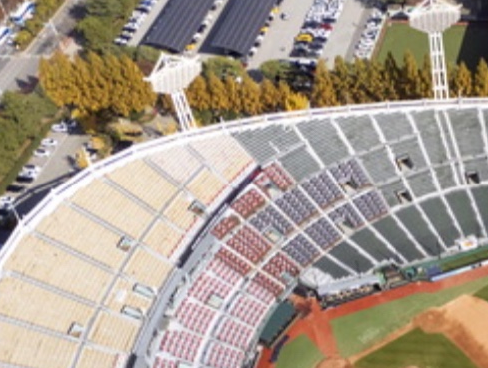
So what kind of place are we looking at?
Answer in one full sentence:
It's a sports ground.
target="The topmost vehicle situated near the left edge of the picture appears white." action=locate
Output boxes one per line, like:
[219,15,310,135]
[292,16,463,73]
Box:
[8,0,38,24]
